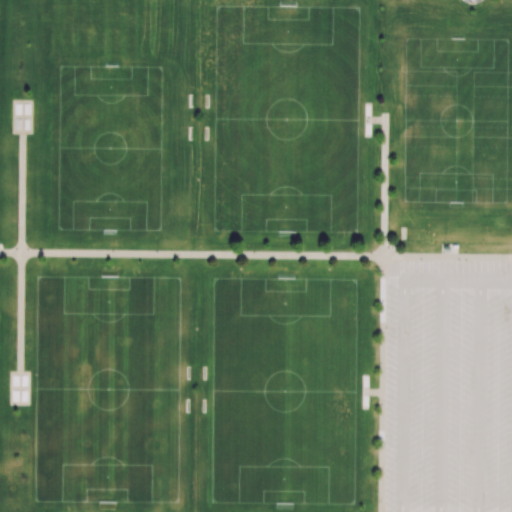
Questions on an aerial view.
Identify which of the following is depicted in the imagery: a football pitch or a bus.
football pitch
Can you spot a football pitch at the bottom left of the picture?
Yes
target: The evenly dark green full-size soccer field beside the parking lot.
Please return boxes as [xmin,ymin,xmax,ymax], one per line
[212,277,358,506]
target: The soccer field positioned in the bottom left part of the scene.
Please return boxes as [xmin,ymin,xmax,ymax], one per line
[35,276,182,504]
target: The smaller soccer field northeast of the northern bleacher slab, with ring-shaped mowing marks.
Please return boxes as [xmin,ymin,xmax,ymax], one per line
[58,65,163,232]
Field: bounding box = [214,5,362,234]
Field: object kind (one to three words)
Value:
soccer field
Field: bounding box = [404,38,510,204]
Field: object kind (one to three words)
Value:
soccer field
